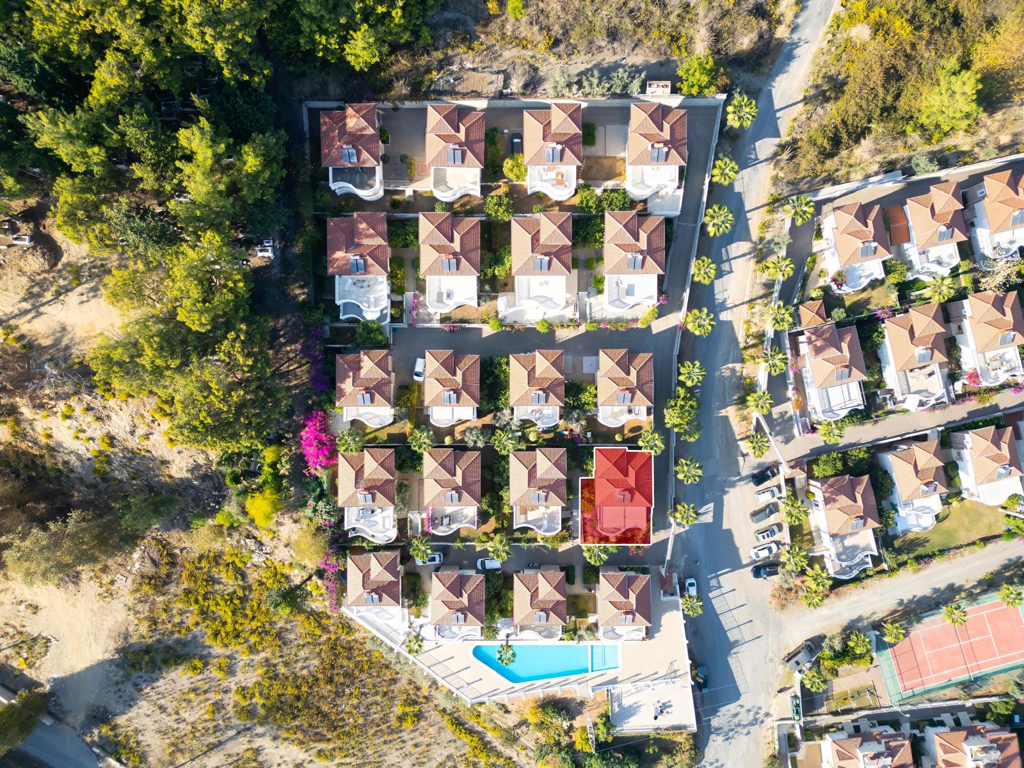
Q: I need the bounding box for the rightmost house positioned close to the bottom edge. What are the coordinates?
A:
[919,707,1019,768]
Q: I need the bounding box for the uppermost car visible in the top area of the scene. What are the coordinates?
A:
[509,129,523,157]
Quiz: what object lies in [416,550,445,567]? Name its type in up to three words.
car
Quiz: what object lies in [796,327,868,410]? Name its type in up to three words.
house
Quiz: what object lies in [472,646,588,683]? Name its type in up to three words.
swimming pool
